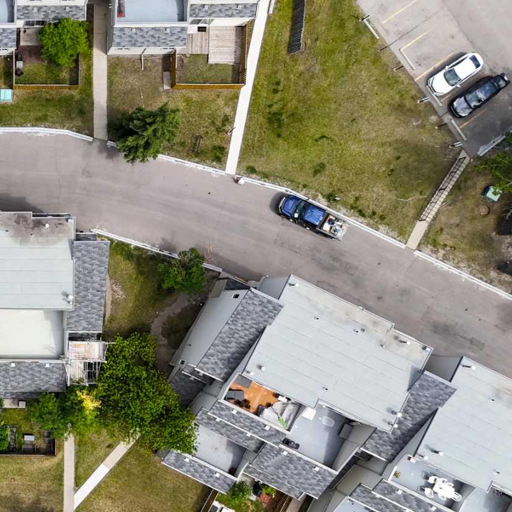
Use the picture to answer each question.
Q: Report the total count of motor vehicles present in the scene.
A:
3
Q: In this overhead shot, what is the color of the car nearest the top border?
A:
white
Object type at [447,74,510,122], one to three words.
car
